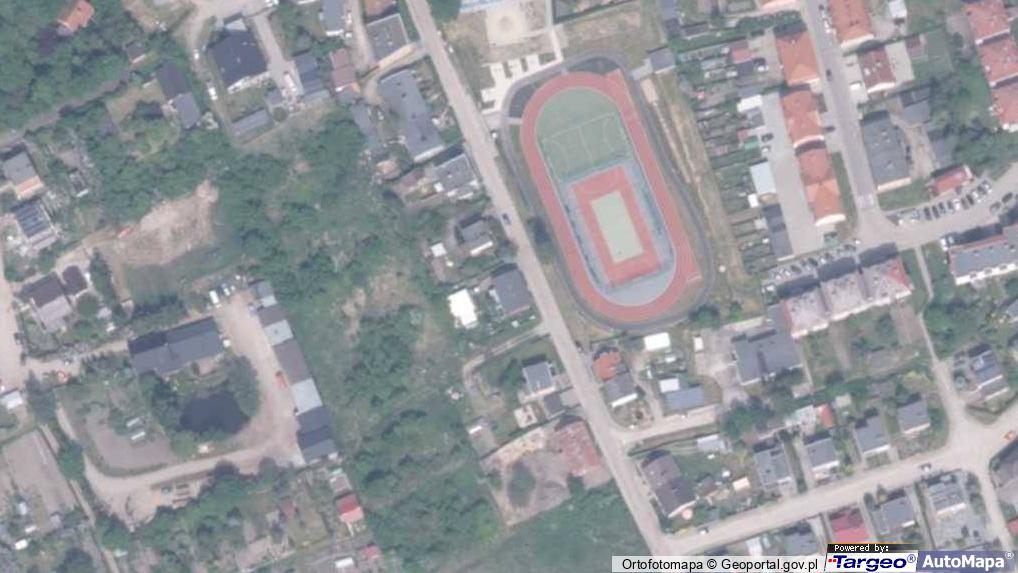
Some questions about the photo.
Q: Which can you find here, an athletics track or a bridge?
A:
athletics track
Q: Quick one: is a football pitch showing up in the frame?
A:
Yes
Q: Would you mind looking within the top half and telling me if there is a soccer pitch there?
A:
Yes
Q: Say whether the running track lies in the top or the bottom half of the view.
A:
top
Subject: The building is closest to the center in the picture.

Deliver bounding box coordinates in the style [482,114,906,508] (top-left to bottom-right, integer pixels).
[490,270,533,315]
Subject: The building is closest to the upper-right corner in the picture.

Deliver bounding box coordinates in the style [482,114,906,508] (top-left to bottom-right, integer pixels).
[964,0,1012,44]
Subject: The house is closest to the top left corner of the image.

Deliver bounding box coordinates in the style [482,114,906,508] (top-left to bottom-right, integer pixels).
[56,0,94,39]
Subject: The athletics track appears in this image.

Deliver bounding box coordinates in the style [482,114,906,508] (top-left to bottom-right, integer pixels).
[520,74,703,320]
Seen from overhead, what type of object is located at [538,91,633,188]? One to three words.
soccer field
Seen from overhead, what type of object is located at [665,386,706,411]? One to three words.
barn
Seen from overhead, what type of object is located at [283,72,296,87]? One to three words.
vehicle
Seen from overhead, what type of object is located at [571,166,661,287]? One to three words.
sports court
